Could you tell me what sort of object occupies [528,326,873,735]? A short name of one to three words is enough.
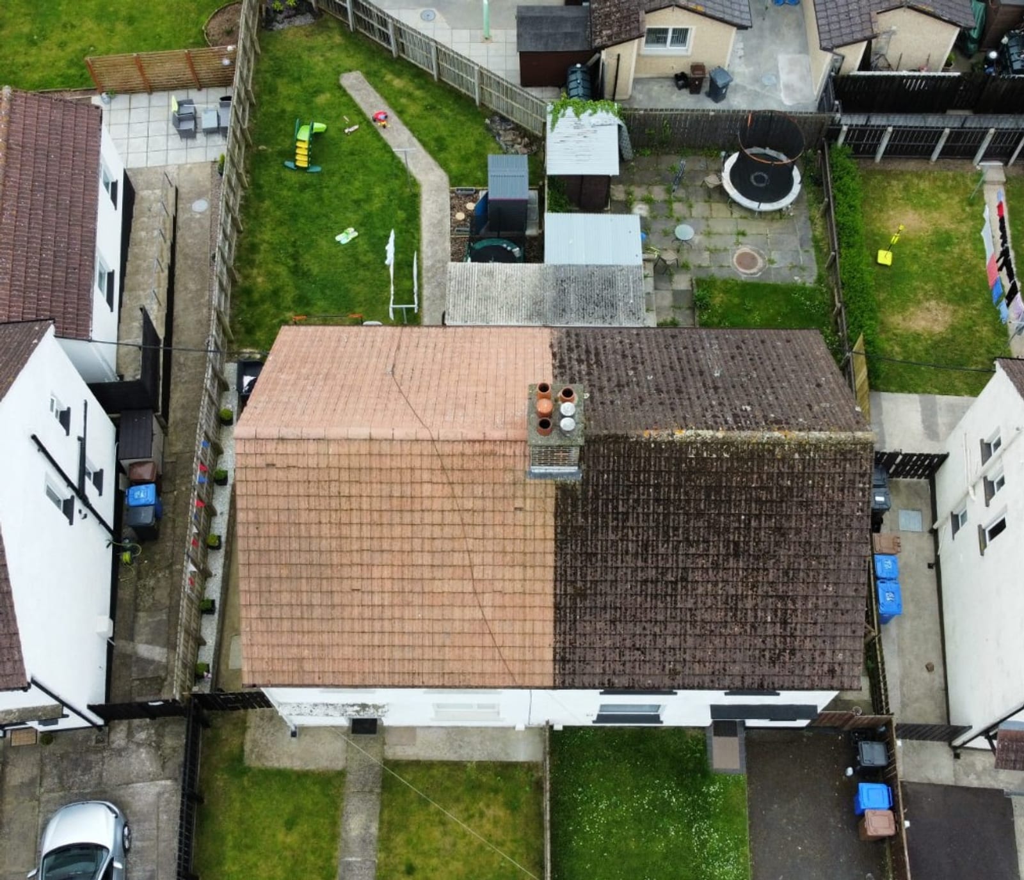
house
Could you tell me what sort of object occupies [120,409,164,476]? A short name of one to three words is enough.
building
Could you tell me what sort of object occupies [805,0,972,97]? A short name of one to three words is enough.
building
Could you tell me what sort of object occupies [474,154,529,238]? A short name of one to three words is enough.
shed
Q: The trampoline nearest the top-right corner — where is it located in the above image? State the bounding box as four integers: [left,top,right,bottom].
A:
[723,113,804,225]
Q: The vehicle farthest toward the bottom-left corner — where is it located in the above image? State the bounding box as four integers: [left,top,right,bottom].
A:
[24,796,129,880]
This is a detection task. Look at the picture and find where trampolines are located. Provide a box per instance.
[471,229,524,264]
[723,113,804,225]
